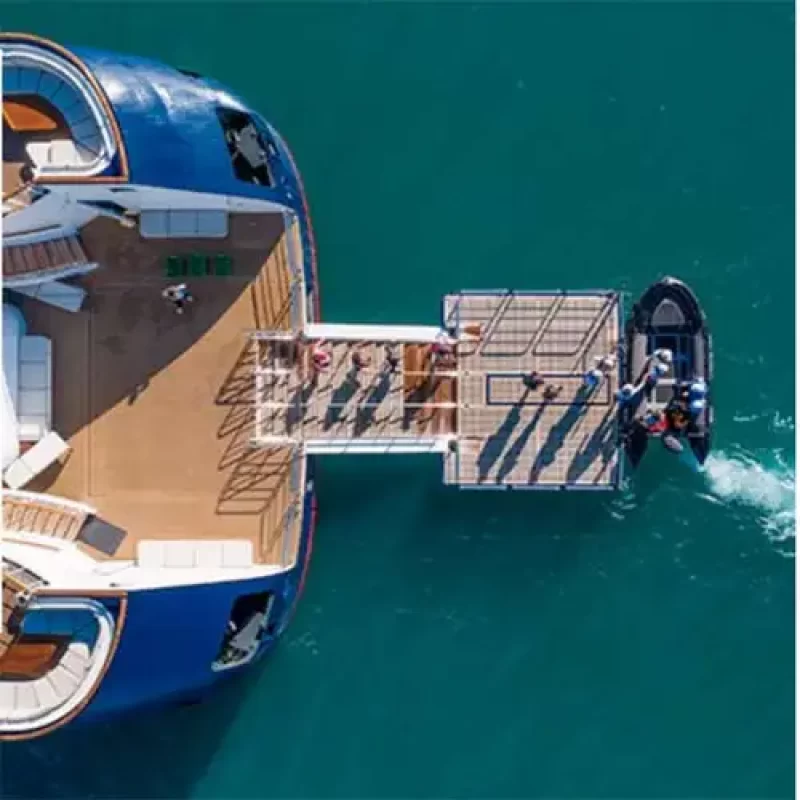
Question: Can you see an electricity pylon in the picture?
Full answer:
No, no electricity pylon can be seen from above.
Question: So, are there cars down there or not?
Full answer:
No, there is no car in the image.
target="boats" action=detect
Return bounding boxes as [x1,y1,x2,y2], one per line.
[629,275,712,467]
[0,36,322,740]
